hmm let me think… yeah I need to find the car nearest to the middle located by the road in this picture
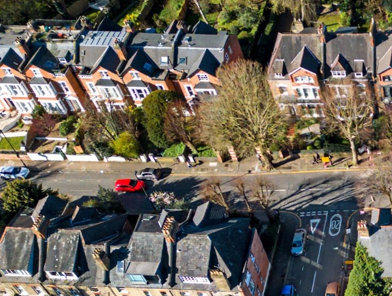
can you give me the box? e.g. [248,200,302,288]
[132,168,168,183]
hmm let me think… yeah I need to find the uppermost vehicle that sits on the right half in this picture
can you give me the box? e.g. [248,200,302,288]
[287,229,310,257]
